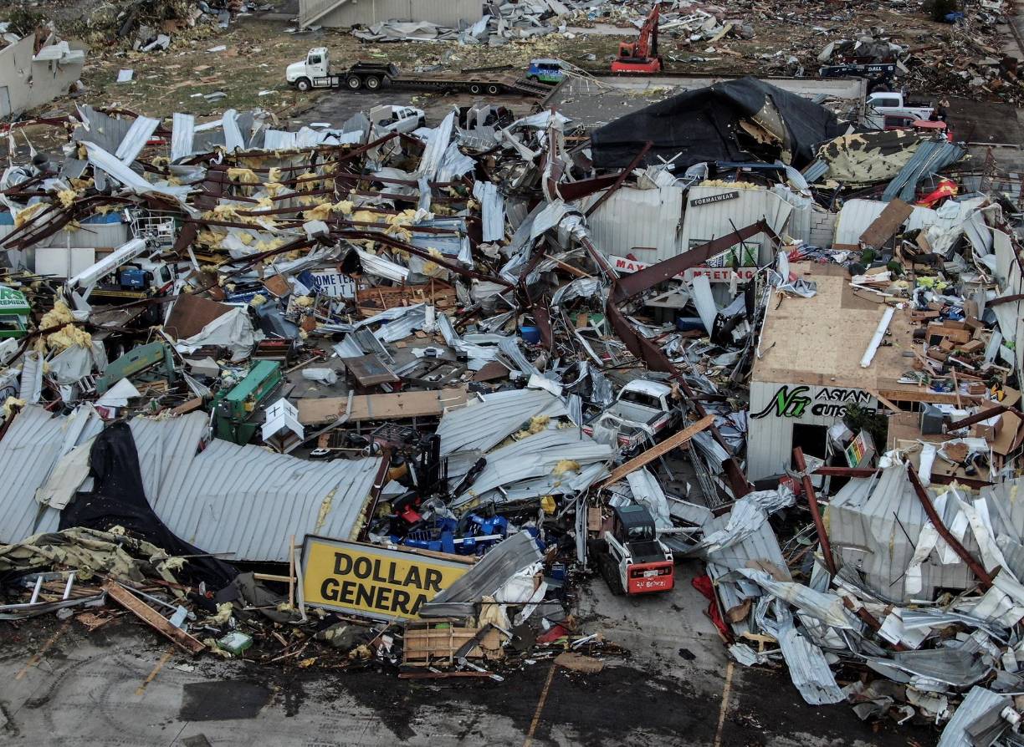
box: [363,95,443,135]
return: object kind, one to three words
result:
truck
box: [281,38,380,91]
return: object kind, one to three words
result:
truck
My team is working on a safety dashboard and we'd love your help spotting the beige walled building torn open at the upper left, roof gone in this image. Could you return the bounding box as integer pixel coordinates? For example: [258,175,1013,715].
[0,27,81,117]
